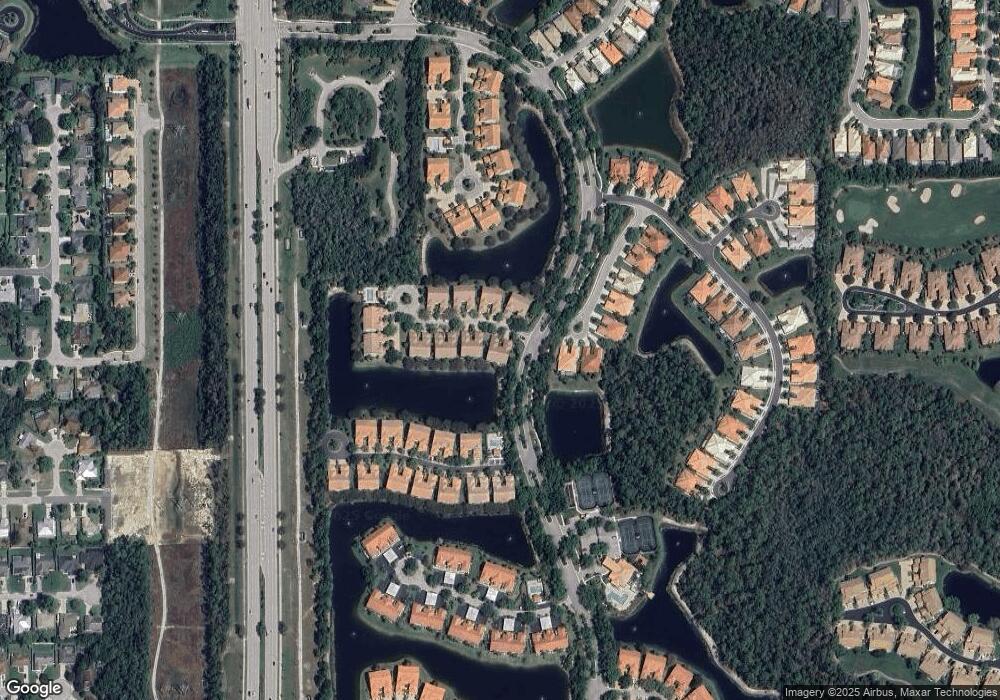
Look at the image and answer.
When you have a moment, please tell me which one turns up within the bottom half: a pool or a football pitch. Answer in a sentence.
Visible within the bottom half is a pool.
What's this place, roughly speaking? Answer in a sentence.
What you see here is a residential area.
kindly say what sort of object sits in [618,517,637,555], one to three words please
tennis court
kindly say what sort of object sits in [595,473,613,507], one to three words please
tennis court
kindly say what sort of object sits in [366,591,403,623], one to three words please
building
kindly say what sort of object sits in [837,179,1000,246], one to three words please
golf course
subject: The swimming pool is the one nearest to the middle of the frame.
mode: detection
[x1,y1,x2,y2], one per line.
[487,433,503,449]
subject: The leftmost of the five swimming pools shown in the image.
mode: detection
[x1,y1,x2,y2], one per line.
[363,287,378,303]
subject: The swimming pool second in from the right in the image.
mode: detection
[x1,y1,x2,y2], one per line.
[527,580,543,596]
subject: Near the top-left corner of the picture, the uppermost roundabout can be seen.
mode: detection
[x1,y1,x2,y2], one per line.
[0,4,25,33]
